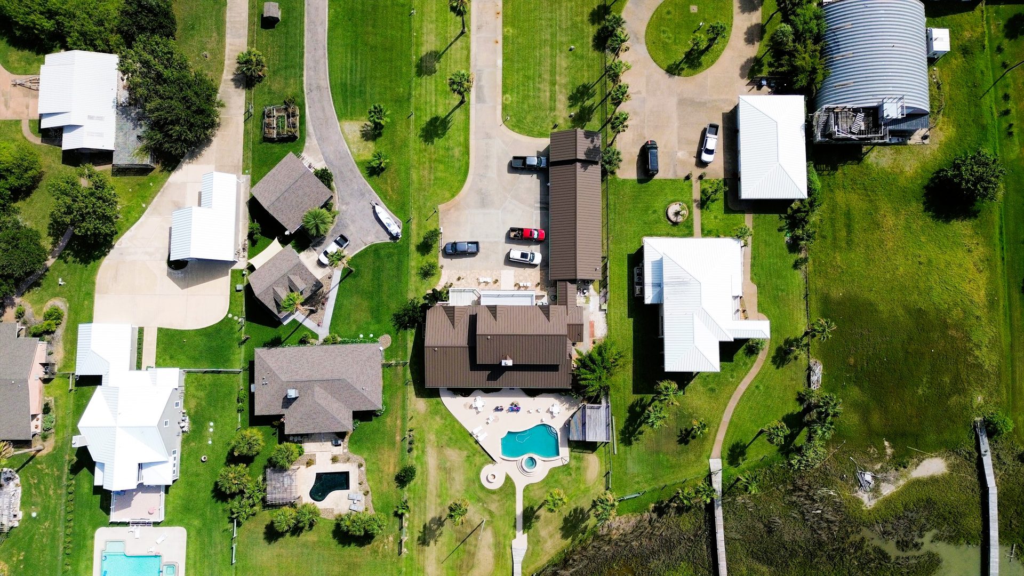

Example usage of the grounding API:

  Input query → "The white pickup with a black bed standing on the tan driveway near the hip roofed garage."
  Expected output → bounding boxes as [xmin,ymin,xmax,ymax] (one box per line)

[700,124,719,164]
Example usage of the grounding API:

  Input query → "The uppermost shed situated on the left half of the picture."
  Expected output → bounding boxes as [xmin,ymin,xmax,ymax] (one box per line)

[264,2,282,21]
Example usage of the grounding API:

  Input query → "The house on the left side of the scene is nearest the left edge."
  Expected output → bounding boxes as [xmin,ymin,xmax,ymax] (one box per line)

[0,322,48,439]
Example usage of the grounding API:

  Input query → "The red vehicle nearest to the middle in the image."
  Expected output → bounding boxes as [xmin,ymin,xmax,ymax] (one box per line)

[509,227,546,242]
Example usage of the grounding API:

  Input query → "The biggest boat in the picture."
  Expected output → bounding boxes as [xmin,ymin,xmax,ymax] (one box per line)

[373,206,402,239]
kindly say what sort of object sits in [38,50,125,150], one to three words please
house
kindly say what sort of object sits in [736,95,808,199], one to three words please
building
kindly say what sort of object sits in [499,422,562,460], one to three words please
swimming pool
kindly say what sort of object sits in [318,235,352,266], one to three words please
truck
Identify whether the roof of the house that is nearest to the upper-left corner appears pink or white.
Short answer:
white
